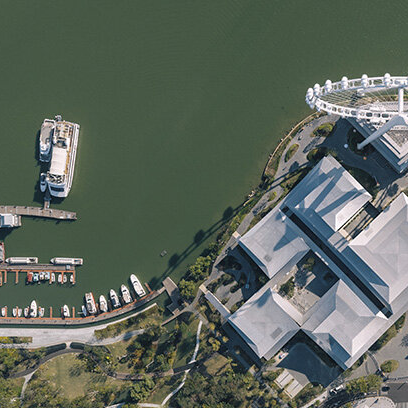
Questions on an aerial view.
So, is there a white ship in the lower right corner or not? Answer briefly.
No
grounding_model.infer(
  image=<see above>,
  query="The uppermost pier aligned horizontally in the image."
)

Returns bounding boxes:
[0,205,77,220]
